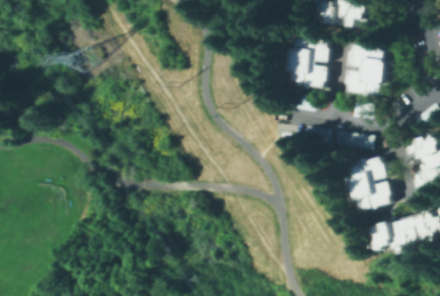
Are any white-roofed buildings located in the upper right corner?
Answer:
Yes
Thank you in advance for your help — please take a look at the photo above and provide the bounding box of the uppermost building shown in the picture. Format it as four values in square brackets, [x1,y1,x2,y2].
[318,0,374,25]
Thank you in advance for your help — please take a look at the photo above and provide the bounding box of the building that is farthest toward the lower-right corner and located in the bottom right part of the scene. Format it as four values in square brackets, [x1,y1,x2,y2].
[369,213,440,252]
